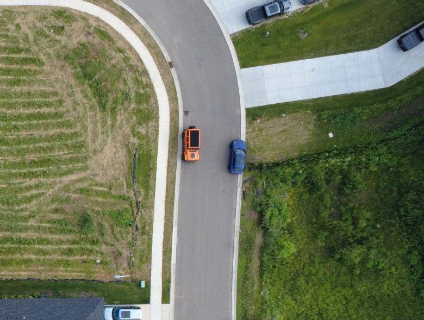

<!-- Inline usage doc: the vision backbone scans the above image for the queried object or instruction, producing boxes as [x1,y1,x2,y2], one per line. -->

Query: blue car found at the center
[225,141,246,174]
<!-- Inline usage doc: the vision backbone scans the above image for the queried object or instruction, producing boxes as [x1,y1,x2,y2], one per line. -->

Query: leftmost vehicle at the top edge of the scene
[243,1,287,26]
